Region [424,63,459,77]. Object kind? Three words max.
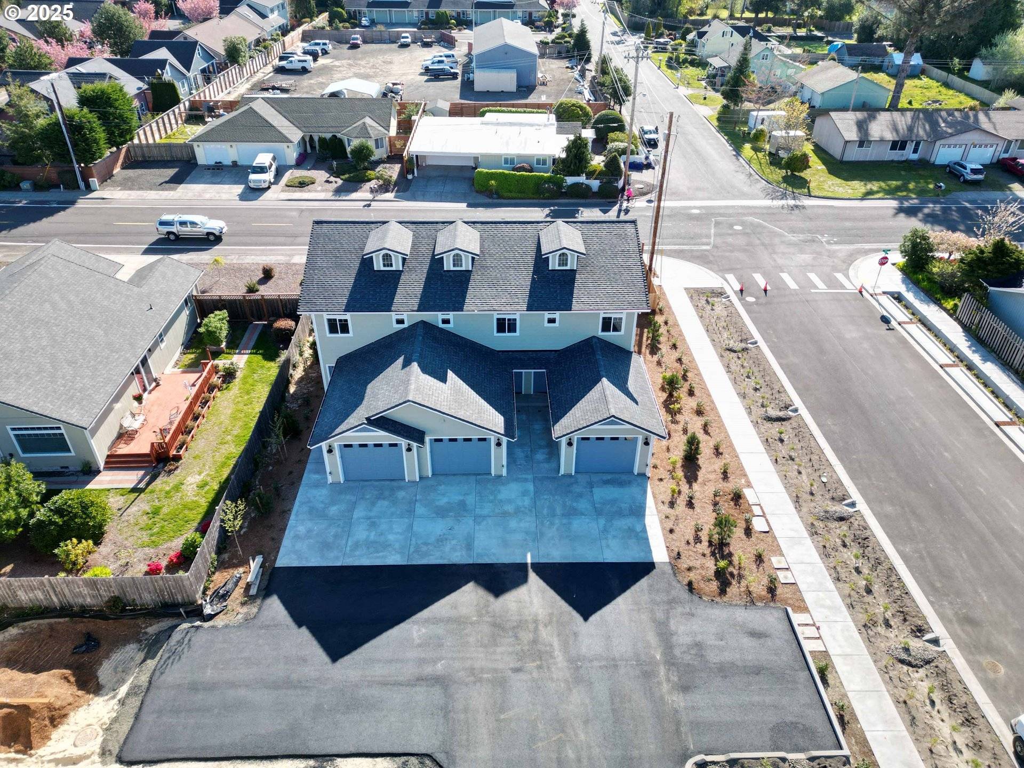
vehicle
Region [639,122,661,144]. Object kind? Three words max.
car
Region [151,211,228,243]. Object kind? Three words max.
truck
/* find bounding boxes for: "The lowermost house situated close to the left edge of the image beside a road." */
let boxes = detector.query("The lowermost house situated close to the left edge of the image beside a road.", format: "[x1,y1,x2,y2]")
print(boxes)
[0,240,205,469]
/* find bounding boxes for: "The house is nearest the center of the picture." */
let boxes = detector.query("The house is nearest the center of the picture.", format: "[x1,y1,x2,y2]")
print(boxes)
[298,211,669,483]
